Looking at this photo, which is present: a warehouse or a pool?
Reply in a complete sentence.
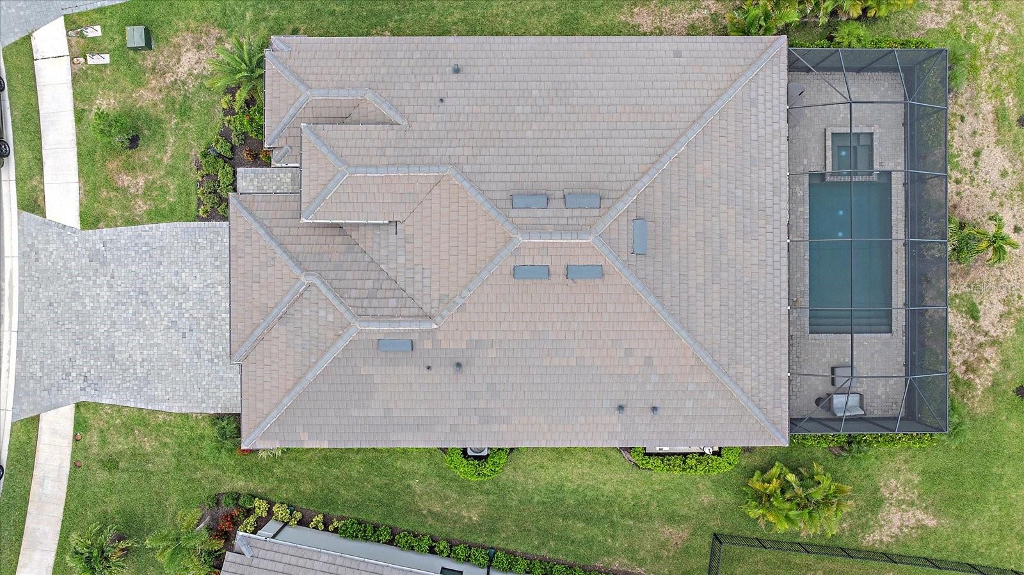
I can see a pool in this picture.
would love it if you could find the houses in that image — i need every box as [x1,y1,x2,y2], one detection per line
[219,517,513,575]
[226,33,789,450]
